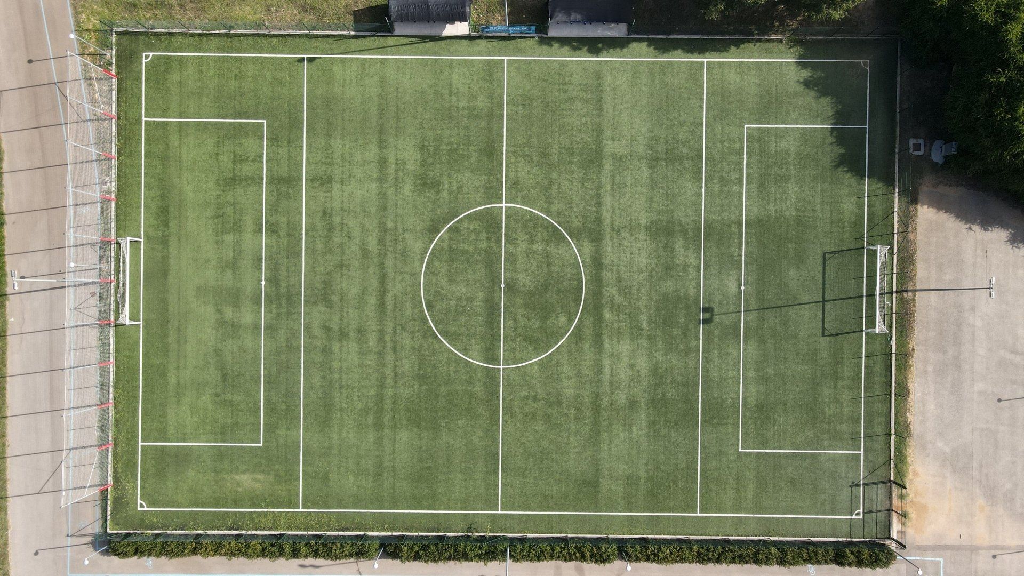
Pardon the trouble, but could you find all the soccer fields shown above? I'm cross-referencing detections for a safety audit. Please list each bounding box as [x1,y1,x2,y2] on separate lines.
[110,31,898,536]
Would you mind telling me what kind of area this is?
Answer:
sports ground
